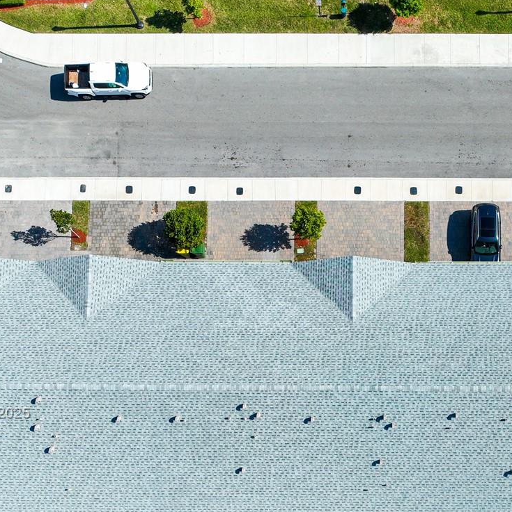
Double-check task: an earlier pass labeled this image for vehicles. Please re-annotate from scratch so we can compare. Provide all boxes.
[469,209,504,260]
[63,60,154,100]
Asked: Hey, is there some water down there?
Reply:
No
